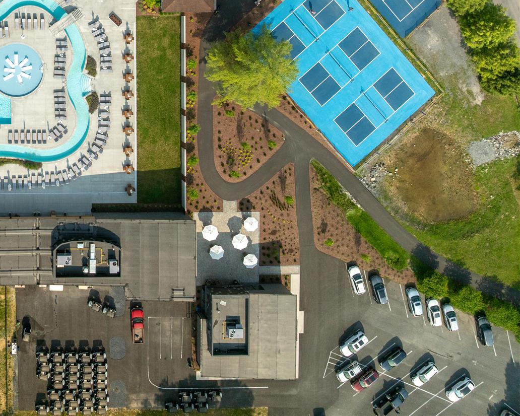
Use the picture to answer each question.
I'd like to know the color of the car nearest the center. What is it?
white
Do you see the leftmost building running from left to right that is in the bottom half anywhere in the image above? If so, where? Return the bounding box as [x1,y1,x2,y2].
[0,213,197,302]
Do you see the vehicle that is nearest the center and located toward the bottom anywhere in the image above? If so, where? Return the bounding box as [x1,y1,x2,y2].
[346,264,366,295]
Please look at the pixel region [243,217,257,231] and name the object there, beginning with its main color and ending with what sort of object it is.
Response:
white umbrella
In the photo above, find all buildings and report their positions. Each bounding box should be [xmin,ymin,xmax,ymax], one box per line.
[197,280,297,381]
[161,0,213,12]
[0,213,197,302]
